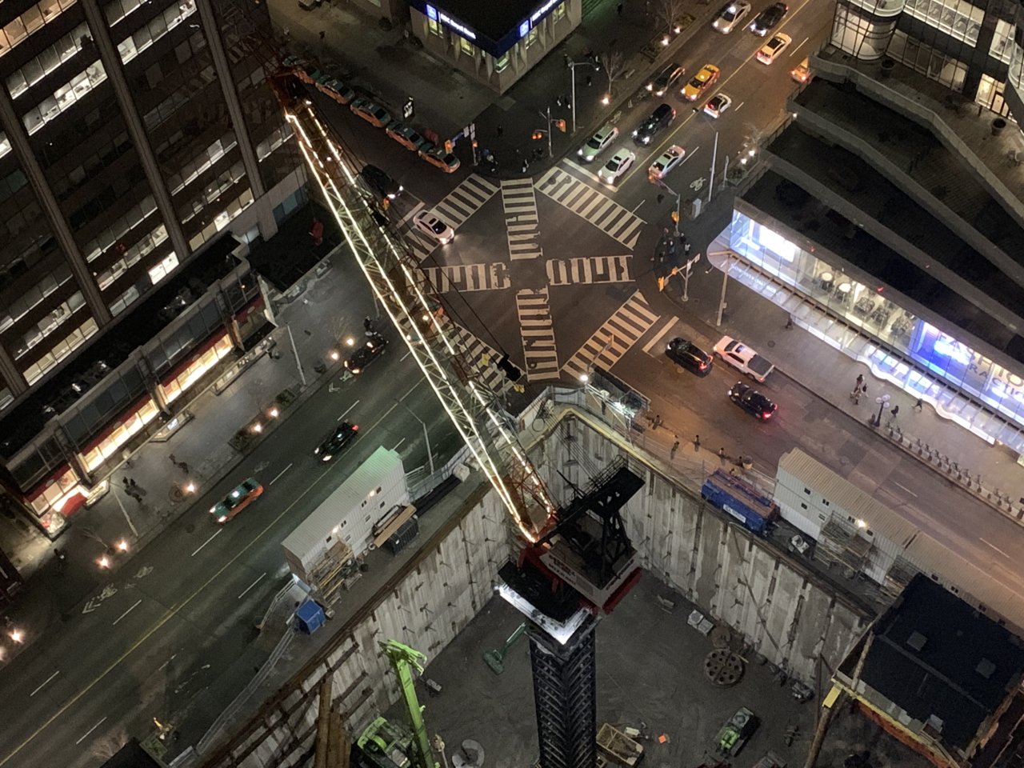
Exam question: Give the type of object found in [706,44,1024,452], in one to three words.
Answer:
building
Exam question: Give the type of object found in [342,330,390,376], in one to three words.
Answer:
car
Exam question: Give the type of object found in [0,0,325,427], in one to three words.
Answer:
building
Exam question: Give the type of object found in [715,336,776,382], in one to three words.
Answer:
truck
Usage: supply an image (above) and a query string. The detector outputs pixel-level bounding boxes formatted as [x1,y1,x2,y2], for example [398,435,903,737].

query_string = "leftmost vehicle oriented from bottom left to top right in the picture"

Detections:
[211,476,264,526]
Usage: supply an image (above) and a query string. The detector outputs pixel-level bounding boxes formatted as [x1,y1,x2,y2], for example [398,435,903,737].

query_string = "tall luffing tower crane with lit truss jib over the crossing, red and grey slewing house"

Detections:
[262,50,651,768]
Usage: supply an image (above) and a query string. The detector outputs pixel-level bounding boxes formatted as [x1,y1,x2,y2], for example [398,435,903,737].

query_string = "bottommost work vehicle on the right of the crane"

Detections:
[711,702,761,757]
